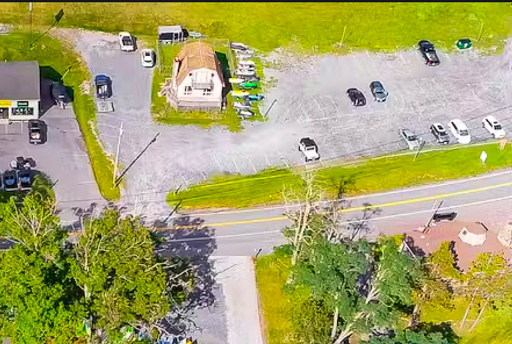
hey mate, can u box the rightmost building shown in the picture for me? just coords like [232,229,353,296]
[152,41,225,110]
